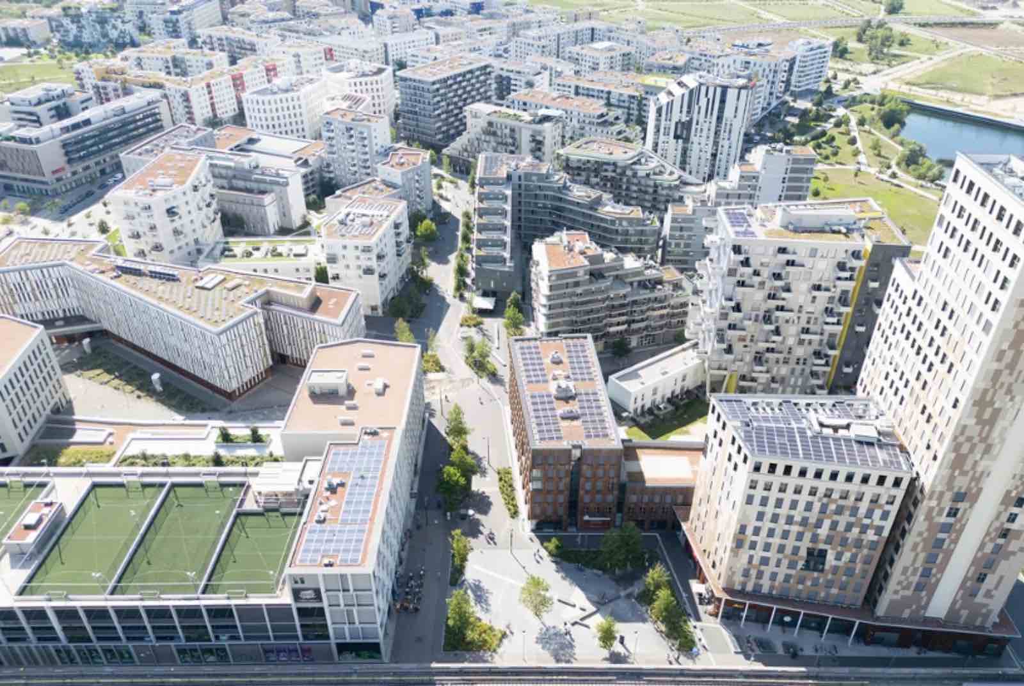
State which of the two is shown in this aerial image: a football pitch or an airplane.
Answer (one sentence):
It is a football pitch that can be seen here.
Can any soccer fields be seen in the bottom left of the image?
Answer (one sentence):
Yes, you'll find a soccer field in the bottom left of the image.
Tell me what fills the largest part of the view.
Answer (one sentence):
Most of the picture is covered by buildings.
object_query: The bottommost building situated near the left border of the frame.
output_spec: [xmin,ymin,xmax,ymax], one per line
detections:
[0,453,325,660]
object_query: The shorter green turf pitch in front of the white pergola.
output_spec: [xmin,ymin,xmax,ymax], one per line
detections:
[191,499,307,595]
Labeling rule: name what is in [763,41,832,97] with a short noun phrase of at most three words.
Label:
house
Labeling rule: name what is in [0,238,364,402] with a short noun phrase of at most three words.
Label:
building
